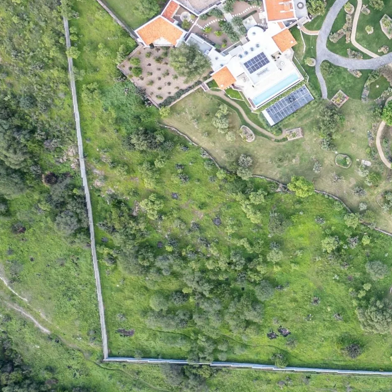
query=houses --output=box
[208,21,299,90]
[133,15,190,48]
